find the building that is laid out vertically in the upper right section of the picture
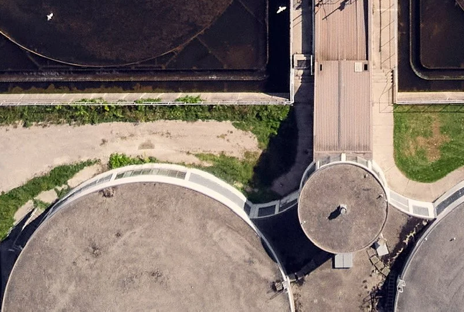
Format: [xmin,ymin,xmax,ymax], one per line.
[313,0,372,159]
